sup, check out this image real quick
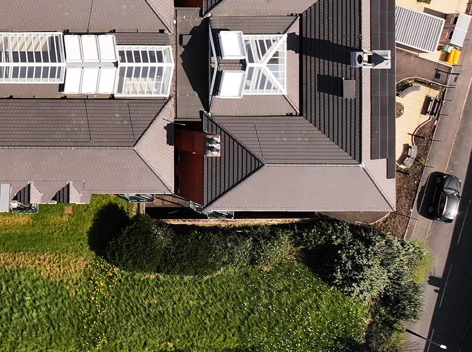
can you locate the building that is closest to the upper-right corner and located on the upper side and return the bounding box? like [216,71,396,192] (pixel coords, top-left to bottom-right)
[435,13,472,47]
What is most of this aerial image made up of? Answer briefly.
buildings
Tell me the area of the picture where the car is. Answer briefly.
right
